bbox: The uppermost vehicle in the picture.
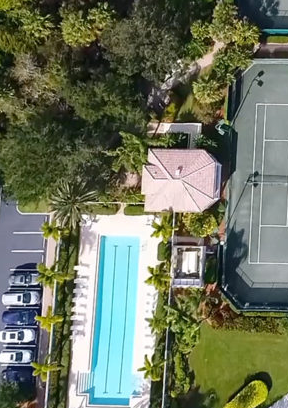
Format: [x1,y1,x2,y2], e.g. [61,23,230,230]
[6,273,41,289]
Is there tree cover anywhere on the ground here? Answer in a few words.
Yes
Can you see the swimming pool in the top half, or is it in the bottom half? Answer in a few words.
bottom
